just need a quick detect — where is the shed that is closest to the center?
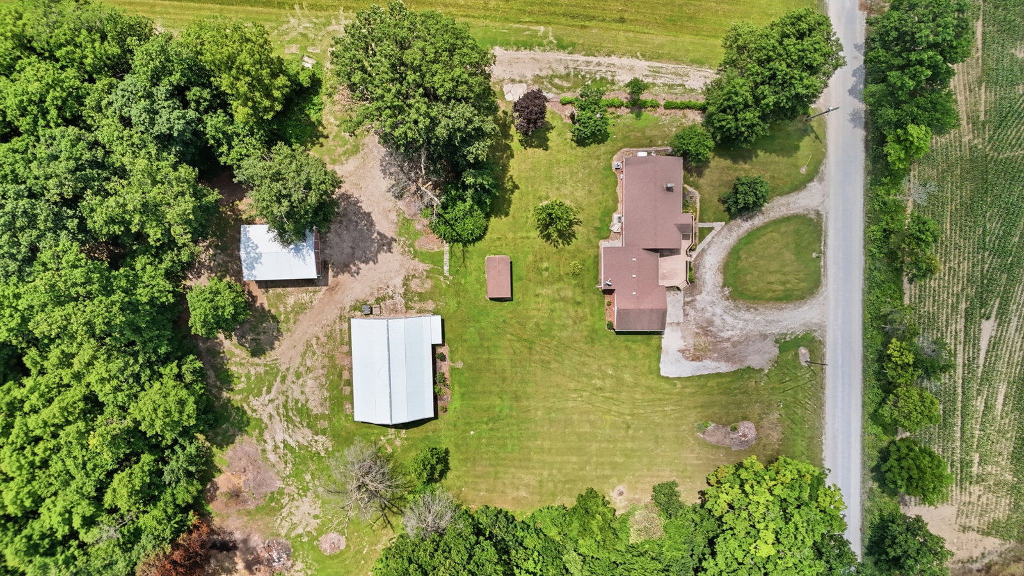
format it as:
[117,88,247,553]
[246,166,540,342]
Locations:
[485,255,512,299]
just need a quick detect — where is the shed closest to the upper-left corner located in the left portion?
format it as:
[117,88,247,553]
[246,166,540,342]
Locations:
[240,224,322,281]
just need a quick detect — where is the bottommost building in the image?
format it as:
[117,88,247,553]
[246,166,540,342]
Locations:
[350,314,443,423]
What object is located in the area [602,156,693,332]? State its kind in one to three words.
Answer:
house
